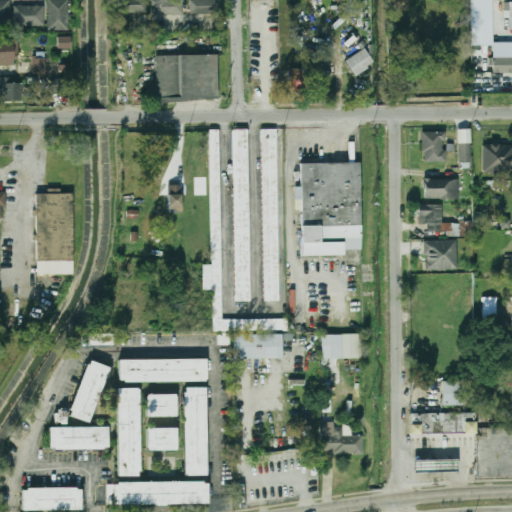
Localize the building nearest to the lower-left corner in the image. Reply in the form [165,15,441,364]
[21,487,83,510]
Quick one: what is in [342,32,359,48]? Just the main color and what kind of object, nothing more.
white camper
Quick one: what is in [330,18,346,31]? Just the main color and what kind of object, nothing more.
white vehicle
